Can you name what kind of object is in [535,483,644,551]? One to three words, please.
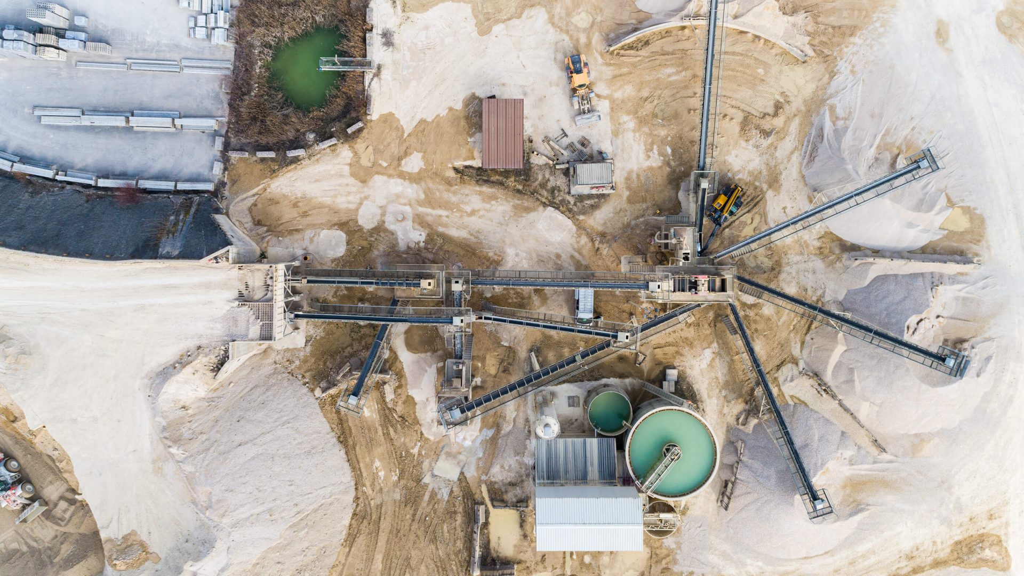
shed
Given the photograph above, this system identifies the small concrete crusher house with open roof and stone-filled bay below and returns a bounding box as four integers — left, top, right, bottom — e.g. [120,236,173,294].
[437,355,472,445]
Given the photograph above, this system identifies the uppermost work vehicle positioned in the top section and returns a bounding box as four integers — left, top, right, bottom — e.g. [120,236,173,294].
[562,48,599,127]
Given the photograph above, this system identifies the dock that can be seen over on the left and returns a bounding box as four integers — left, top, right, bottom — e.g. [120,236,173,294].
[318,56,373,74]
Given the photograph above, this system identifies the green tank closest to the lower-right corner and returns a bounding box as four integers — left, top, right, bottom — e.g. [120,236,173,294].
[617,380,720,503]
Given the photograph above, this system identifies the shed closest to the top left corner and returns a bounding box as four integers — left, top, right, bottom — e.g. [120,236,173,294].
[482,98,523,172]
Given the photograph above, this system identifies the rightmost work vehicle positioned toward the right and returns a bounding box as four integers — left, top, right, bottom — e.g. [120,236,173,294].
[706,183,748,248]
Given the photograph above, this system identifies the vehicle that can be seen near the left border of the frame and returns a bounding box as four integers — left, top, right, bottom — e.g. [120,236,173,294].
[0,456,48,525]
